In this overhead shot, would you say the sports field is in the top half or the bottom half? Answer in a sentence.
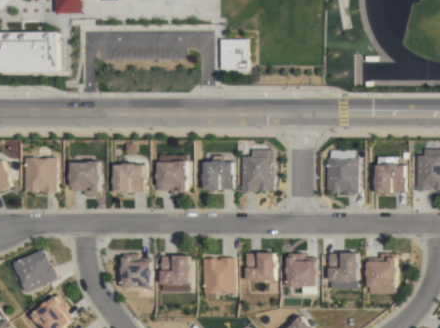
The sports field sits in the top half of the picture.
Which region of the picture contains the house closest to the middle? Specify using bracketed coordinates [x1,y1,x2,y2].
[202,155,234,192]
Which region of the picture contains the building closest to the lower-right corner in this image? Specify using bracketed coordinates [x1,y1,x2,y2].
[366,254,398,294]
